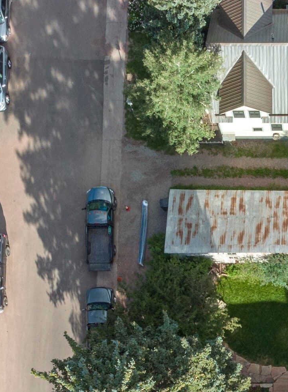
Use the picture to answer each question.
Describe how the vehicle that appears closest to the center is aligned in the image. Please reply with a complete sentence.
From this overhead view, the vehicle that appears closest to the center appears to run vertically.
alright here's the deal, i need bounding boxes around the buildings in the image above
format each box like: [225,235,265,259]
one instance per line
[206,0,288,139]
[165,189,288,257]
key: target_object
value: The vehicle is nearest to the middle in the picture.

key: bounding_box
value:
[84,188,118,271]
